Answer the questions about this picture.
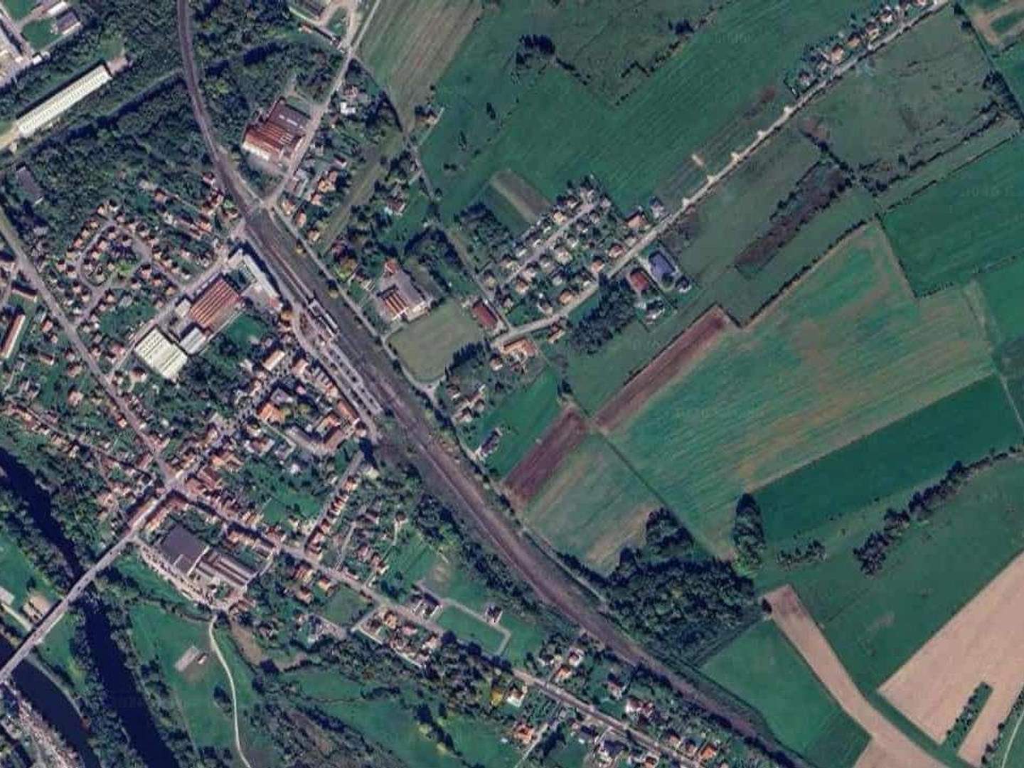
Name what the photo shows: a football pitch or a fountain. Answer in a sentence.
Visible in the photo is a football pitch.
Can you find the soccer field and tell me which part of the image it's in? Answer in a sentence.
The soccer field is located in the center region of the scene.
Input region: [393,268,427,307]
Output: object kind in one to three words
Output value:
building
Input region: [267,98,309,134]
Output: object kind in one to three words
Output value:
building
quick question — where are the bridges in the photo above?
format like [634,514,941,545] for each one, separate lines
[0,537,128,680]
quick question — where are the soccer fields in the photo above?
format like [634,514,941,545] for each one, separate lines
[389,297,485,384]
